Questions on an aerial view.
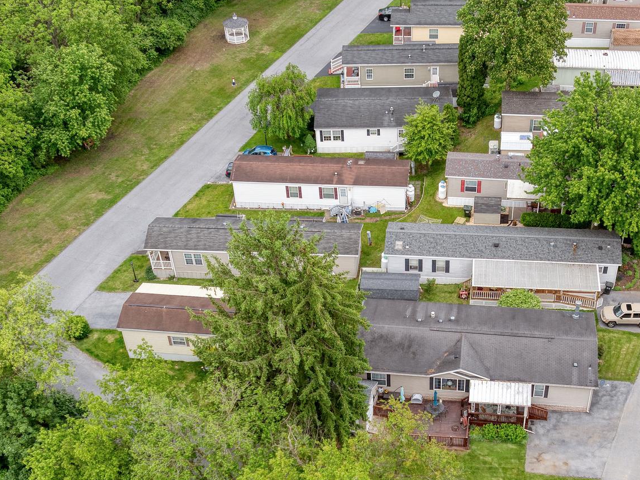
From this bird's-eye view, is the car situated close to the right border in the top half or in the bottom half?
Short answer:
bottom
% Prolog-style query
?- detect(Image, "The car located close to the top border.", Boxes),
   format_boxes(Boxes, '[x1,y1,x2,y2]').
[375,7,391,24]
